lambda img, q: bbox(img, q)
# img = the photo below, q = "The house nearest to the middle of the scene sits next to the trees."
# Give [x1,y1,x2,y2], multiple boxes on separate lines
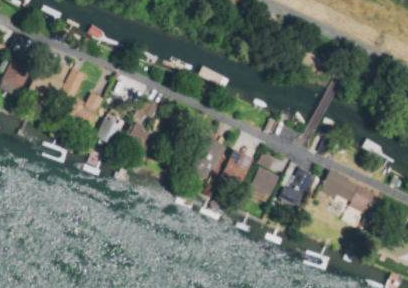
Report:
[193,134,228,180]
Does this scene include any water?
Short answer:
Yes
